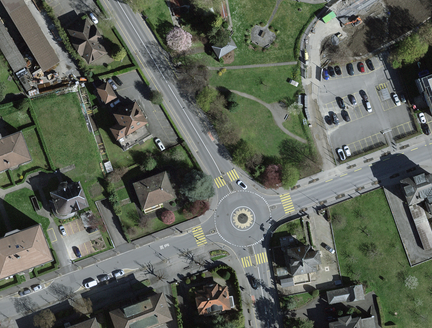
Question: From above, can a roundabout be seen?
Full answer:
Yes, the image includes a roundabout.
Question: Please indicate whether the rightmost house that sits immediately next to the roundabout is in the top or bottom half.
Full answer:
The bottom half of the photo is where the rightmost house that sits immediately next to the roundabout is.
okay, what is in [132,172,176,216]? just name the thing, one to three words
house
